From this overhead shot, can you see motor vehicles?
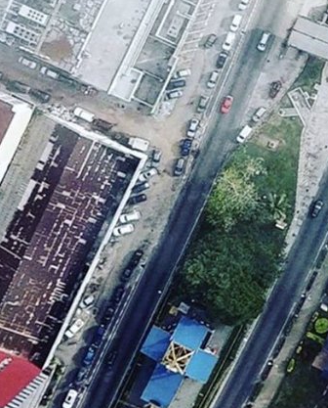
Yes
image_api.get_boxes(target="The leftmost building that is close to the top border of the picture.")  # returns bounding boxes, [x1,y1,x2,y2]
[0,0,104,72]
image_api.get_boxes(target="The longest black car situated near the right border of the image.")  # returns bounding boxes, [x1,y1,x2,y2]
[310,198,322,218]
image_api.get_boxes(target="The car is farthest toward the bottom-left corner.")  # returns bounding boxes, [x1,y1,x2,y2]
[63,390,77,408]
